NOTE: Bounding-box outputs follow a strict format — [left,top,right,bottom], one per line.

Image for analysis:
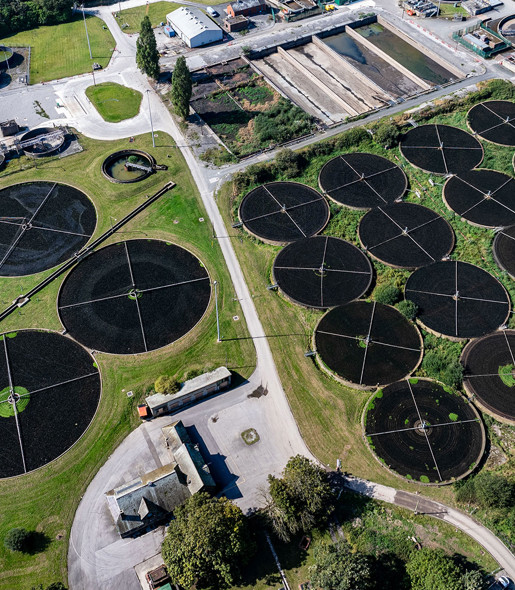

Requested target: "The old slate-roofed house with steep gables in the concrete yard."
[107,421,213,541]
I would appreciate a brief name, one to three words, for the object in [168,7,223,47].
shed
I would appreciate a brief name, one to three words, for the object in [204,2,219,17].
vehicle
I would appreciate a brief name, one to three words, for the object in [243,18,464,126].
storage tank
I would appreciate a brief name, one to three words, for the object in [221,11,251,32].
building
